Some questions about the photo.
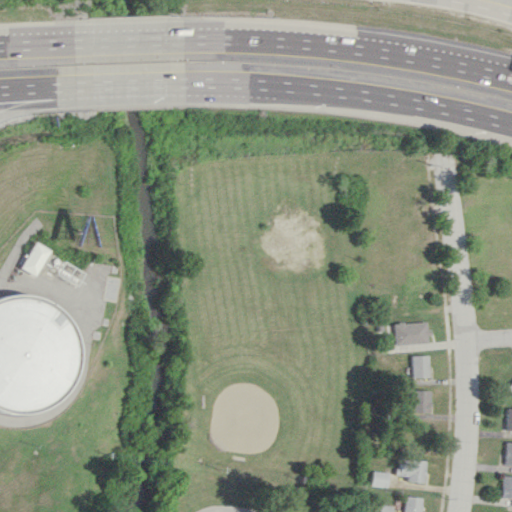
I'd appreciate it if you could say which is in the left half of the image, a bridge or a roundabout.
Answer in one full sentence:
It is a bridge that can be seen in the left half of the image.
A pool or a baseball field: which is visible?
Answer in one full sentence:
Looking from above, you can make out a baseball field.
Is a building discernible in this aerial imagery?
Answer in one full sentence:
Yes, there's a building down there.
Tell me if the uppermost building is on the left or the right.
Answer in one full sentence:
The uppermost building appears in the left half of the scene.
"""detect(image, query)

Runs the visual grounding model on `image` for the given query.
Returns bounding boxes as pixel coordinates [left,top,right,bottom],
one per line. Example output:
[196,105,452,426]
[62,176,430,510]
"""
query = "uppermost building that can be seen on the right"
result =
[394,322,432,346]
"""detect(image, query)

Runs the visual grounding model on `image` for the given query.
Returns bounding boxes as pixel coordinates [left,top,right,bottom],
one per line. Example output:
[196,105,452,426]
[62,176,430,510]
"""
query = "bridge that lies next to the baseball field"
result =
[66,16,184,112]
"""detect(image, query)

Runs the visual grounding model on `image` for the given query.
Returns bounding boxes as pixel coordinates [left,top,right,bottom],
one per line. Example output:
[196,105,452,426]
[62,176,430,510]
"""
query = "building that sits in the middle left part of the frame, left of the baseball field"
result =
[21,242,52,276]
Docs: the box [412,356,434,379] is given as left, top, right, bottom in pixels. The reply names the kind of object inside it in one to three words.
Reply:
house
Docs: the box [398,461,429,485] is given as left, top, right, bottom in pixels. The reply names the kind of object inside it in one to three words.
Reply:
house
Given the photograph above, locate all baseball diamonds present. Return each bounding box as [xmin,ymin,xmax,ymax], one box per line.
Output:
[178,153,360,505]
